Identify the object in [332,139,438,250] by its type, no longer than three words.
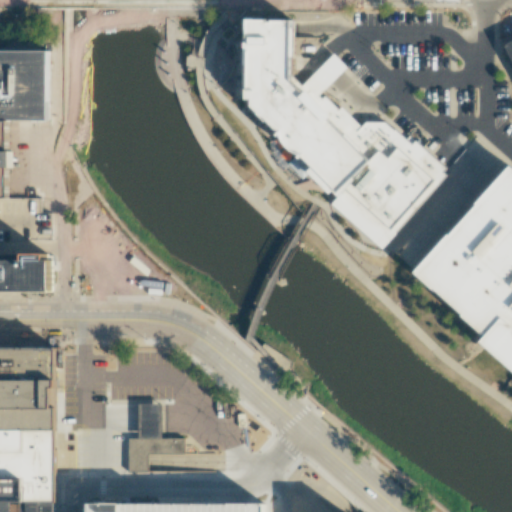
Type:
building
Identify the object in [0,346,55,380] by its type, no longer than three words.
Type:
building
